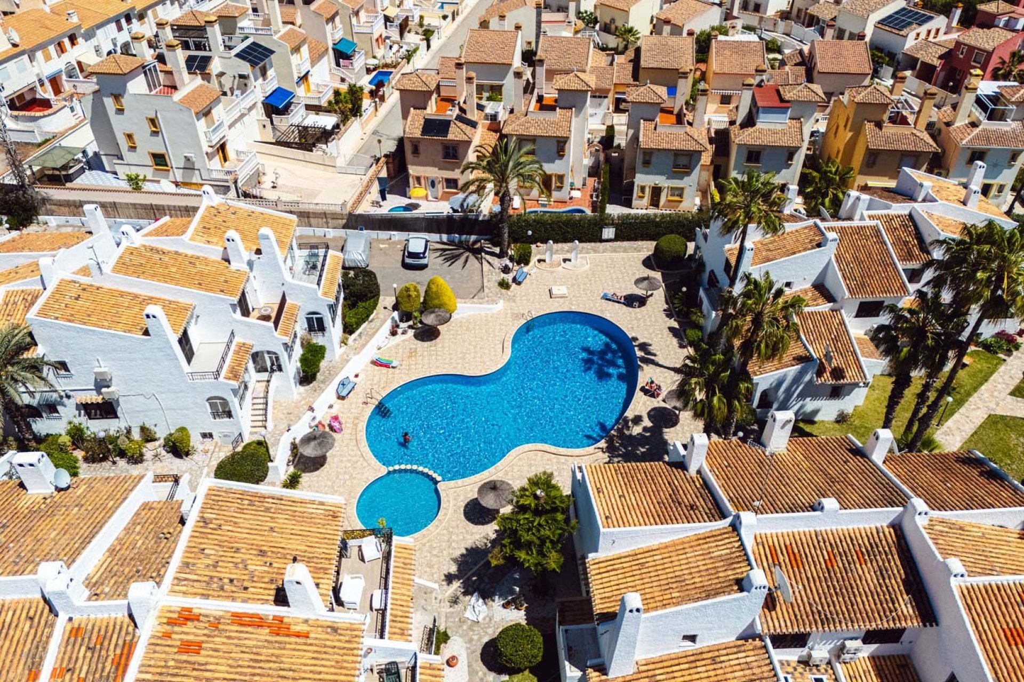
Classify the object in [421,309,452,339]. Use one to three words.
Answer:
umbrella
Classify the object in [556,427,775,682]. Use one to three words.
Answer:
house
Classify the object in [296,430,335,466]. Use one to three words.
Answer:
umbrella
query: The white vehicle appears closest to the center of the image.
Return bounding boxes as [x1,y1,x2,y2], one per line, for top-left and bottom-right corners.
[402,233,431,265]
